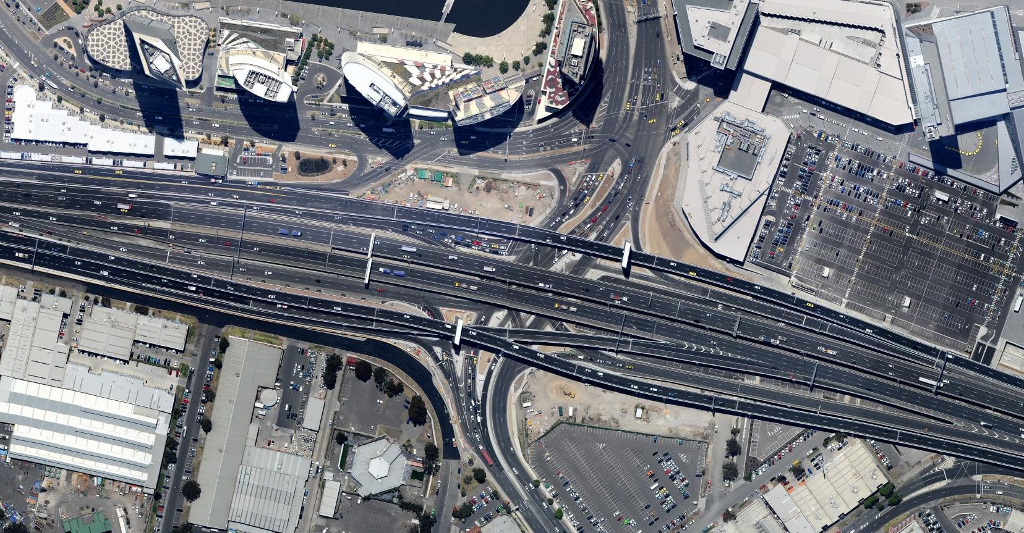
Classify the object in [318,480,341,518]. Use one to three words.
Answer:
shed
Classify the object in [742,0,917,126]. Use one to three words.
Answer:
building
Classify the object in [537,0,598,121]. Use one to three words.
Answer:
building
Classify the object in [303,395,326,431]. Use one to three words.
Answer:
shed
